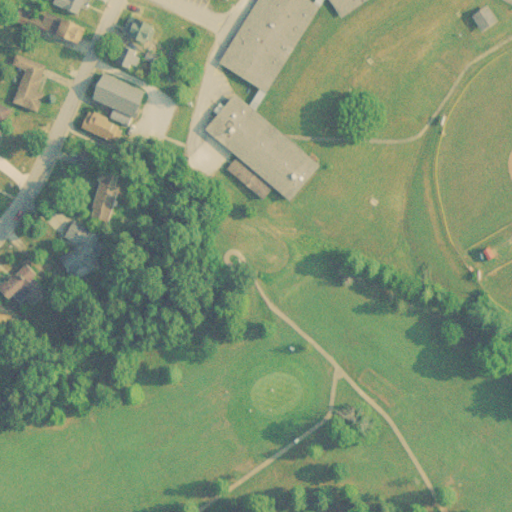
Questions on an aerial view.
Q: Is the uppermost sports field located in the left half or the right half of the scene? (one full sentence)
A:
You can find the uppermost sports field on the right side of the picture.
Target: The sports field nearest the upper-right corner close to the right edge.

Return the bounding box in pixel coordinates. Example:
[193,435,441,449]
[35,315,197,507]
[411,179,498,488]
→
[436,50,512,263]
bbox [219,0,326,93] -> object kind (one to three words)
building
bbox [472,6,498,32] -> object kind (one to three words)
shed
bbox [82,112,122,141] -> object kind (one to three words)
house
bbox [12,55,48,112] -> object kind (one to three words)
house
